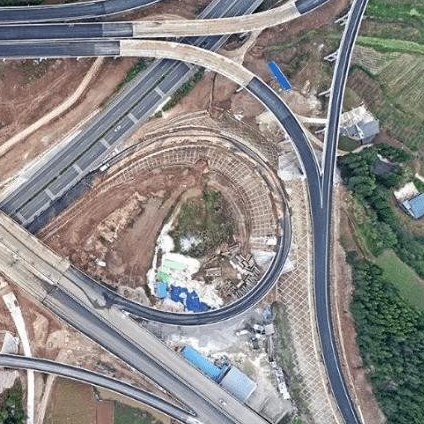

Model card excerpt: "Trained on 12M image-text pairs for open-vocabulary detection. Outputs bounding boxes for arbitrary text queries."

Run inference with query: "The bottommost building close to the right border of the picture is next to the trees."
[401,193,424,218]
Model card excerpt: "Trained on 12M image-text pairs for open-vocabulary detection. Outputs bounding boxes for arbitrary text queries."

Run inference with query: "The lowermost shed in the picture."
[218,367,256,400]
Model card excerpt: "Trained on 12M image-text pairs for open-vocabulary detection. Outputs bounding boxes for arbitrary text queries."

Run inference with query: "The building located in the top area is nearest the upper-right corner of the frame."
[345,118,378,143]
